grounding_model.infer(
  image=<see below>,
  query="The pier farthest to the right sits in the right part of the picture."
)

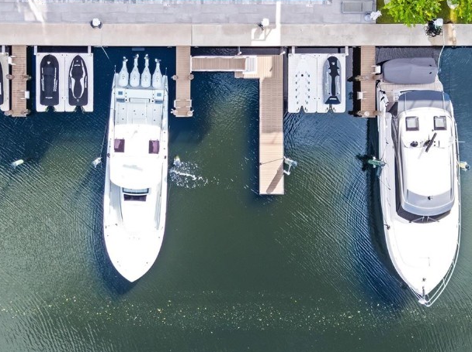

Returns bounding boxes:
[350,47,397,117]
